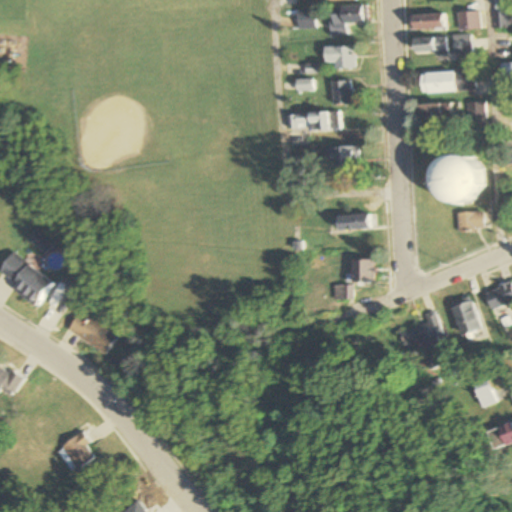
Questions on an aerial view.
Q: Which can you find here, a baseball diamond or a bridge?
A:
baseball diamond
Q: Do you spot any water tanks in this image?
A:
Yes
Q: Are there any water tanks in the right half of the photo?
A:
Yes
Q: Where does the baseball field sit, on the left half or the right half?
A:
left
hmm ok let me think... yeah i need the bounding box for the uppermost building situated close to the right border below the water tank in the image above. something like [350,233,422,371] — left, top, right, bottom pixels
[458,211,488,230]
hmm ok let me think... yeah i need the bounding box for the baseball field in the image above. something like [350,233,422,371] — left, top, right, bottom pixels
[75,89,156,174]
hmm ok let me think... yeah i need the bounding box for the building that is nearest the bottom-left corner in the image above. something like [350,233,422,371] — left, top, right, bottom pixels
[58,432,98,470]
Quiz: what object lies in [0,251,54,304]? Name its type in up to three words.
house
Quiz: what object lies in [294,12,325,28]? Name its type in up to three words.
building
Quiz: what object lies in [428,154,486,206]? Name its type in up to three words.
water tank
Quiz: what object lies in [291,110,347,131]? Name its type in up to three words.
house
